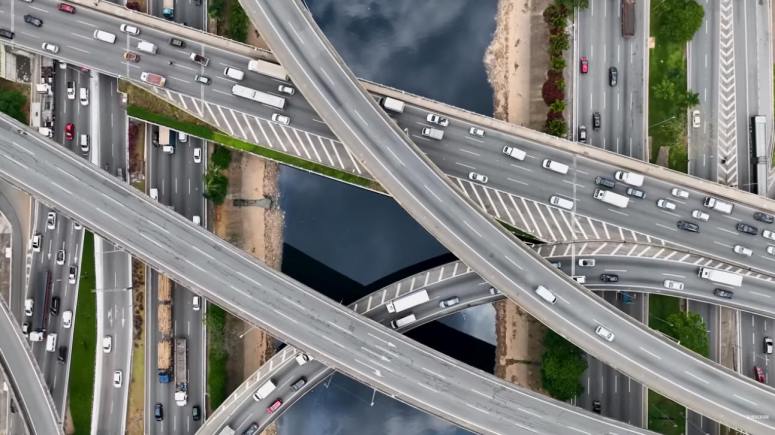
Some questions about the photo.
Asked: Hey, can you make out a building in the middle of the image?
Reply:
No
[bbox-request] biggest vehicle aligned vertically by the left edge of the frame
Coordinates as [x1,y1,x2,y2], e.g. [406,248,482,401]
[30,269,55,342]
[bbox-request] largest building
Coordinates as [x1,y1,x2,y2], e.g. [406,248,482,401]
[1,44,42,89]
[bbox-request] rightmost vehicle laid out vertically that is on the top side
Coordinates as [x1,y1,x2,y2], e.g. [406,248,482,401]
[751,113,770,200]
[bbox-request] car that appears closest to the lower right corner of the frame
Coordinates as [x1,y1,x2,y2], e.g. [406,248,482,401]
[753,365,765,382]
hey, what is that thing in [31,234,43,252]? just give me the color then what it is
white vehicle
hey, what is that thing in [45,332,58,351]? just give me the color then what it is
white vehicle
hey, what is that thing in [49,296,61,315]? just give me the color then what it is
black vehicle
